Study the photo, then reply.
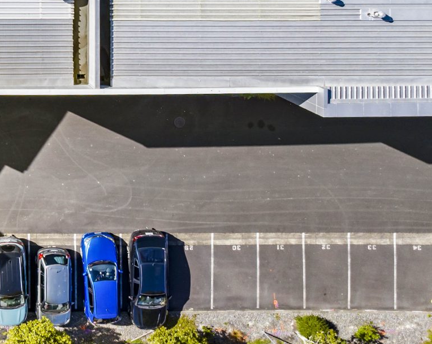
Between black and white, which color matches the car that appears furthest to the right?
black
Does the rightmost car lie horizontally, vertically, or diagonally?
vertically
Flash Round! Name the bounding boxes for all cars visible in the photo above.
[79,229,126,324]
[0,233,33,324]
[127,226,175,326]
[34,244,77,326]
